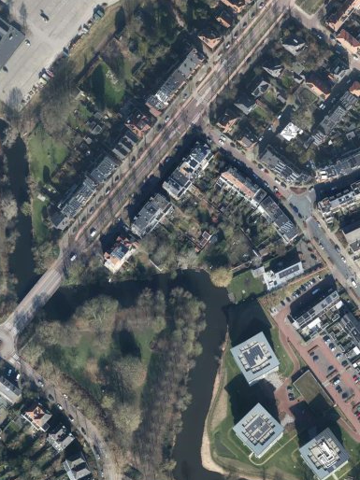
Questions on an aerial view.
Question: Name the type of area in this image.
residential area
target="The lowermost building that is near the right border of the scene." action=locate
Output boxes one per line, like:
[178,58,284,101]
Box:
[298,427,349,480]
